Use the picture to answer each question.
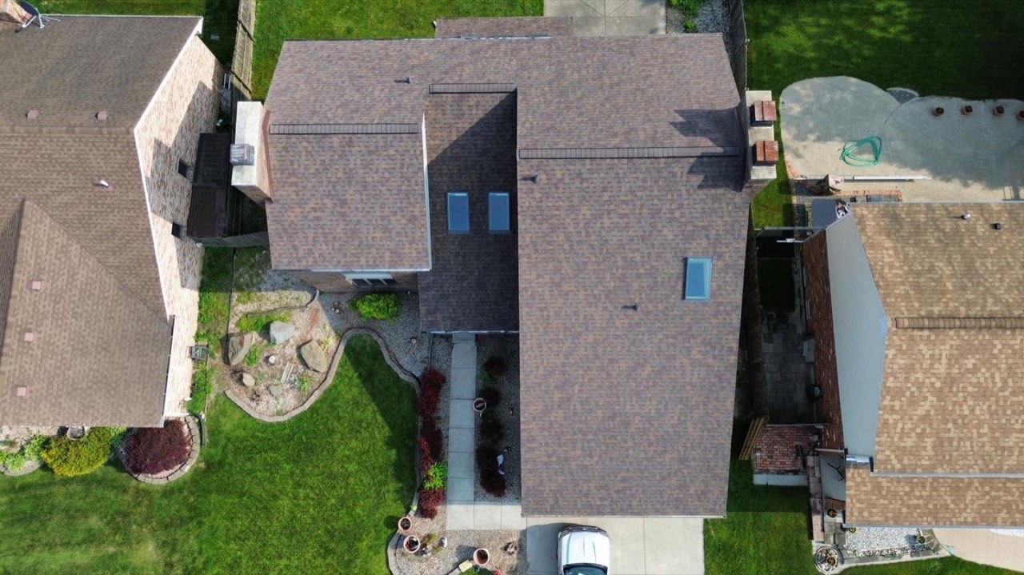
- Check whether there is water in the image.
No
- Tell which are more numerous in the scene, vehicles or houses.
houses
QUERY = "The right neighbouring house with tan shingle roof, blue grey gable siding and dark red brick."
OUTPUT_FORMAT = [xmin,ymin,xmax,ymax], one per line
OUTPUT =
[803,200,1024,528]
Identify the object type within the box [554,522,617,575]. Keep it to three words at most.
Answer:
car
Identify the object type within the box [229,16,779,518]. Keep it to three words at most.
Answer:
house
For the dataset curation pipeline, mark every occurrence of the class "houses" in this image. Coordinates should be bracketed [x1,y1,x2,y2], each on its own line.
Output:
[229,16,779,518]
[0,0,218,430]
[803,200,1024,528]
